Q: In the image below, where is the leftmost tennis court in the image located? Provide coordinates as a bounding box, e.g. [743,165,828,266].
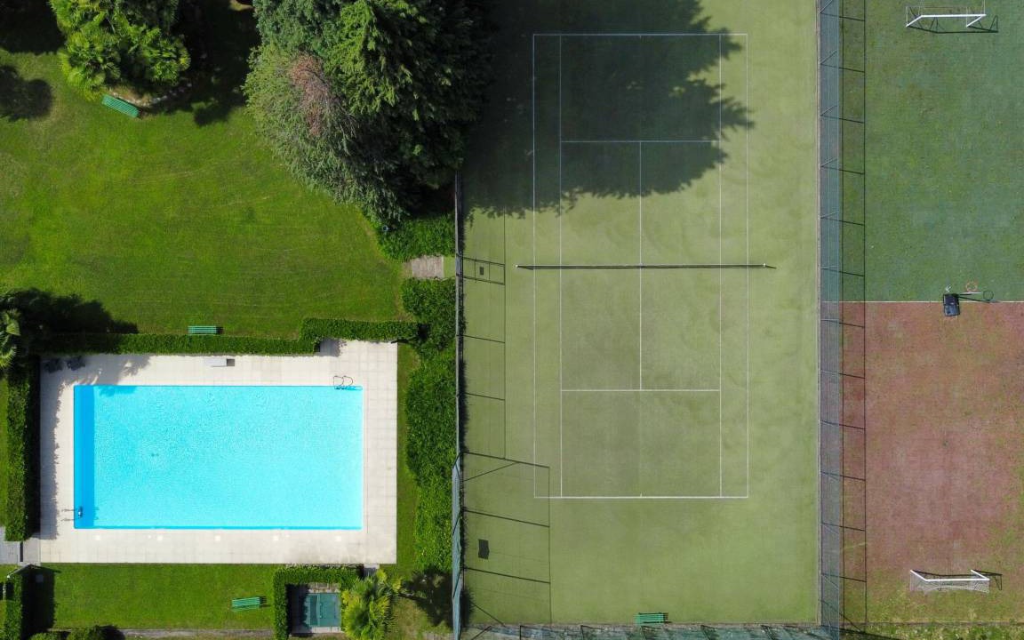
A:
[443,0,816,623]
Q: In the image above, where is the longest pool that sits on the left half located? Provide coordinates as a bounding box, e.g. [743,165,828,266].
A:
[57,372,369,541]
